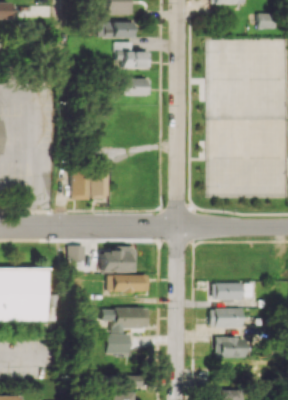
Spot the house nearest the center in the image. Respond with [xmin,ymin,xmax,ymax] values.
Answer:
[90,172,108,200]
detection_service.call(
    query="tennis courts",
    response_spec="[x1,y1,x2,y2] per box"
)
[244,40,284,118]
[205,40,244,118]
[205,118,244,196]
[244,118,284,196]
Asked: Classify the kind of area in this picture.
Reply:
residential area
